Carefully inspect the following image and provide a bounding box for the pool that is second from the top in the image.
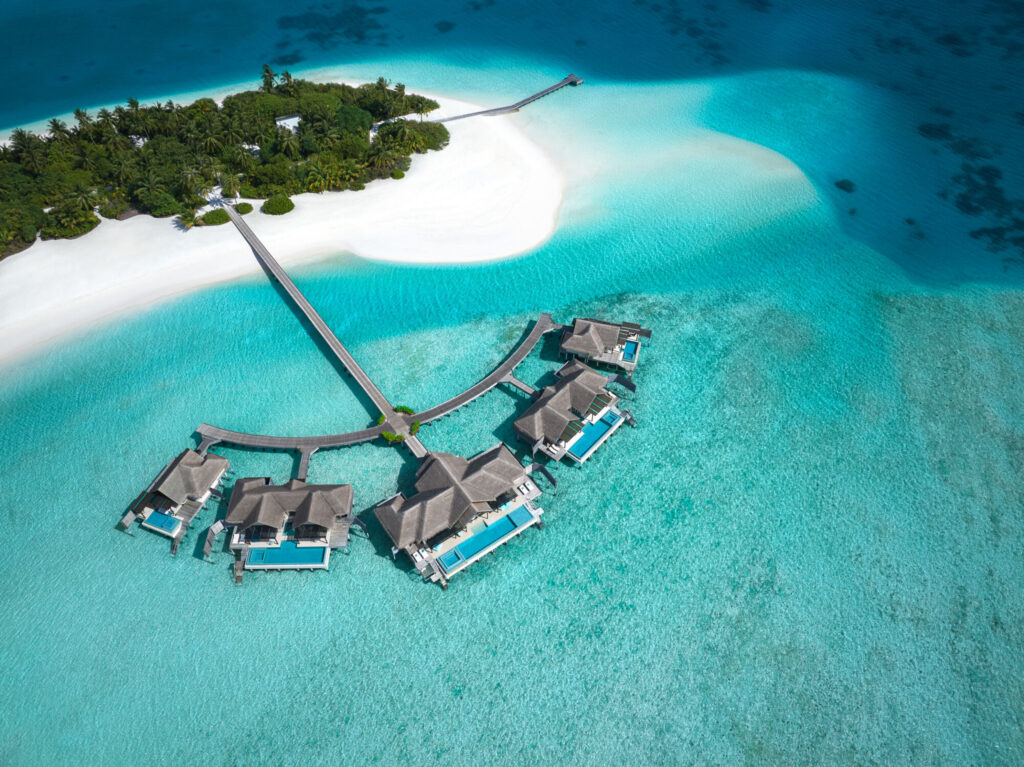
[567,409,623,464]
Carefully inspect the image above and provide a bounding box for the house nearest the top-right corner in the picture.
[562,317,651,380]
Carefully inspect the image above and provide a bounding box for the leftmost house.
[120,447,234,560]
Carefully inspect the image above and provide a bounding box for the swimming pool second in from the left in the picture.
[244,541,331,569]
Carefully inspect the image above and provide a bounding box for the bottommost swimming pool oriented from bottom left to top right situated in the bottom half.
[435,504,538,578]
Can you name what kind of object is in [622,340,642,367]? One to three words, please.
swimming pool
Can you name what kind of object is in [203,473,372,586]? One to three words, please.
house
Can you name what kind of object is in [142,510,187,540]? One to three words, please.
swimming pool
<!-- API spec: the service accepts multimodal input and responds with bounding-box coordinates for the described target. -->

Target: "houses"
[375,441,557,595]
[120,447,234,560]
[512,361,637,468]
[203,473,372,586]
[562,317,651,380]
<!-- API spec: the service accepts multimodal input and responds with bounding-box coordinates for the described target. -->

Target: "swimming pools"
[567,409,623,464]
[244,541,331,569]
[435,504,538,578]
[622,340,642,367]
[142,510,187,540]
